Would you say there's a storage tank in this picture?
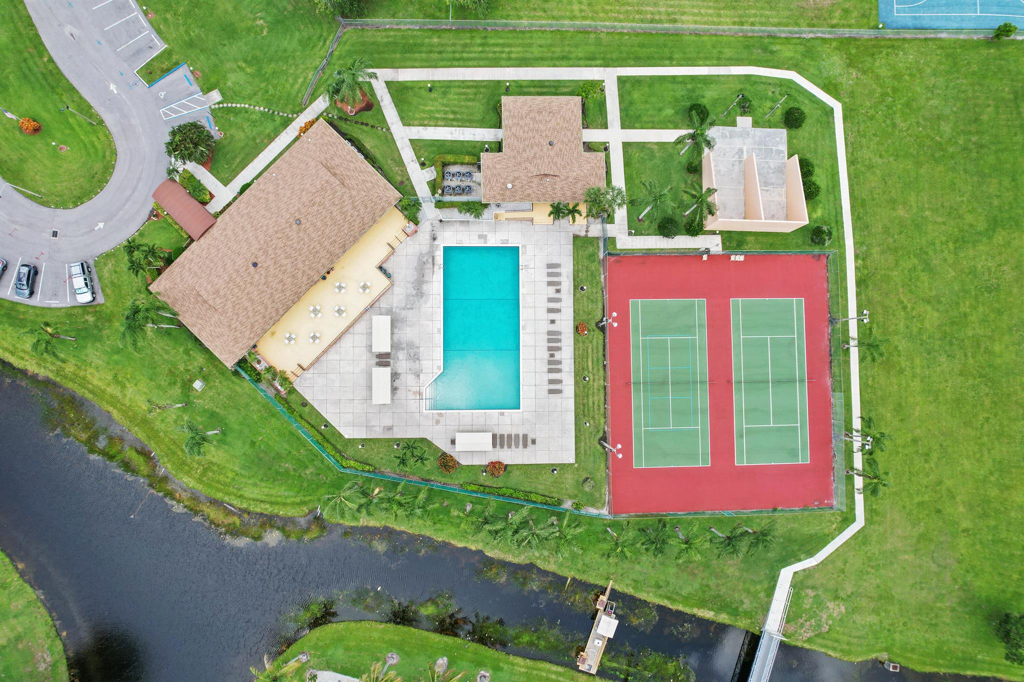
No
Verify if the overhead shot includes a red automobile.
No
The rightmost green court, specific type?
tennis court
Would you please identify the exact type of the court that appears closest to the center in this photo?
tennis court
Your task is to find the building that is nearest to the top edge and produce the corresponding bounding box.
[481,96,606,203]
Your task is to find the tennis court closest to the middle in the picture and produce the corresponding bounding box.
[625,298,717,468]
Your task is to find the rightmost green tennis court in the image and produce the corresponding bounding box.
[726,298,817,466]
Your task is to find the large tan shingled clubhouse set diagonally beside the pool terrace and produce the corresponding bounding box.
[151,119,402,368]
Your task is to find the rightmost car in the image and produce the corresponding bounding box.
[67,261,95,305]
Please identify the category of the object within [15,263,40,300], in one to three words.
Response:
car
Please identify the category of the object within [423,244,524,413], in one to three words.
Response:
swimming pool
